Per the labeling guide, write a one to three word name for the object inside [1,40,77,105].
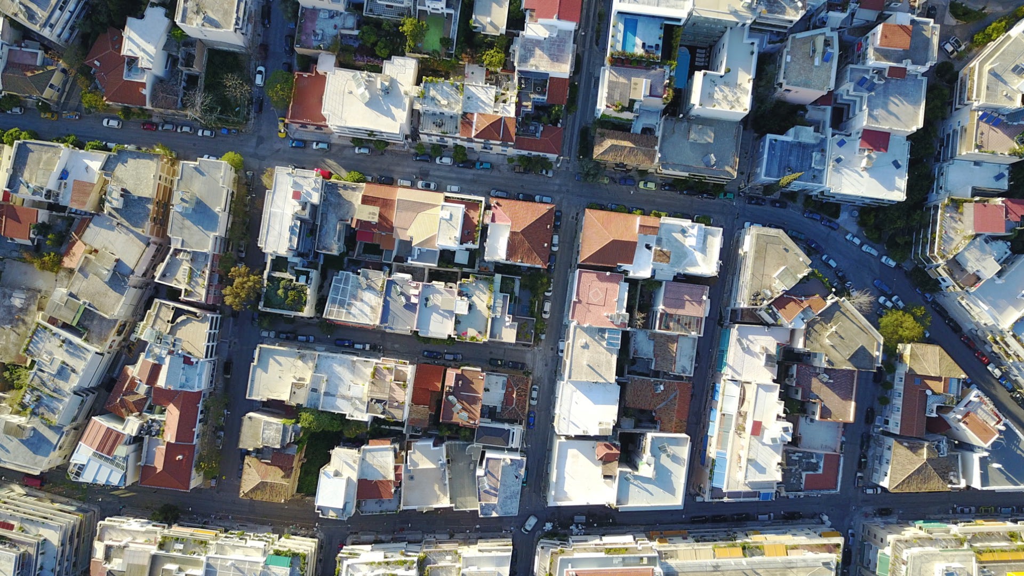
house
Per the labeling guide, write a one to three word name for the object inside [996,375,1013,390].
car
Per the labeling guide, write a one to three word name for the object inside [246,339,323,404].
building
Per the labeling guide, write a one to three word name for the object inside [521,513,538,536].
vehicle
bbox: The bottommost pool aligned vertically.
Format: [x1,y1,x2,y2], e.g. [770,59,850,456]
[670,46,692,93]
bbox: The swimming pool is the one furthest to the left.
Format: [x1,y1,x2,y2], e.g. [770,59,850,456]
[623,18,637,52]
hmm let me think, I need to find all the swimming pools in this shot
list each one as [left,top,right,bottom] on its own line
[623,18,637,52]
[670,46,692,93]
